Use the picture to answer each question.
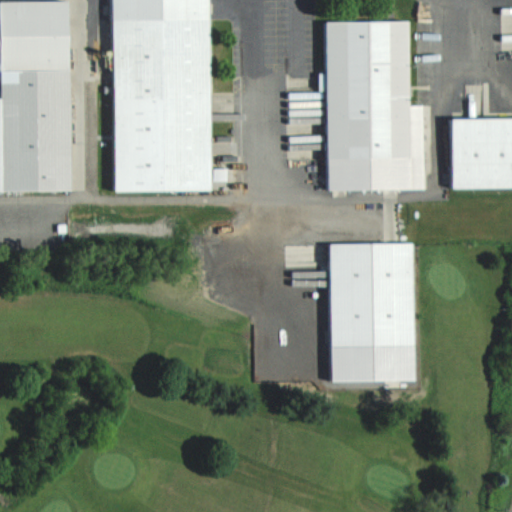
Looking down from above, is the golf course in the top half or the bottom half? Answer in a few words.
bottom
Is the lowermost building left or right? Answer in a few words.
right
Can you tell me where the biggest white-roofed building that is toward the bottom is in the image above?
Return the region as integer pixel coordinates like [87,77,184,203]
[329,243,416,383]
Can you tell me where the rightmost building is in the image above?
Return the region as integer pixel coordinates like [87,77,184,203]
[450,118,512,191]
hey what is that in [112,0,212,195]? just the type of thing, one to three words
building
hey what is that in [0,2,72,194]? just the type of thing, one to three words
building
